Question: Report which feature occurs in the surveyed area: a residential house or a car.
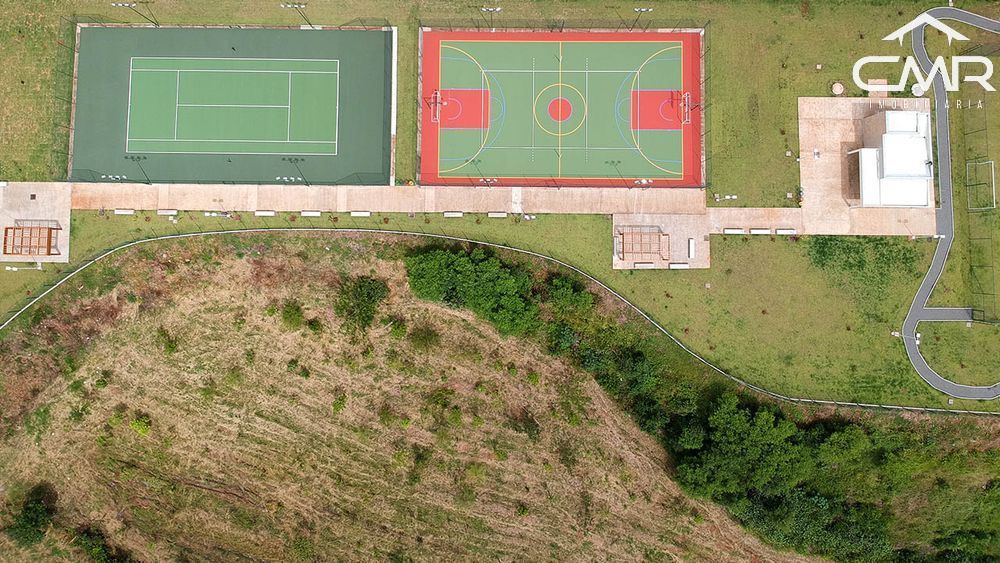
residential house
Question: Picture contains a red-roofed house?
No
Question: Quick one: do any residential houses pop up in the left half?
No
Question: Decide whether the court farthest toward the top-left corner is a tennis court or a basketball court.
tennis court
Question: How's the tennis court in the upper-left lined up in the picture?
from side to side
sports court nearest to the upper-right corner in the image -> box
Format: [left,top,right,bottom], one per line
[417,27,706,188]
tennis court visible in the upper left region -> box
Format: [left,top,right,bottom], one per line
[67,23,397,185]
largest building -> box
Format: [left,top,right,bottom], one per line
[849,110,933,209]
